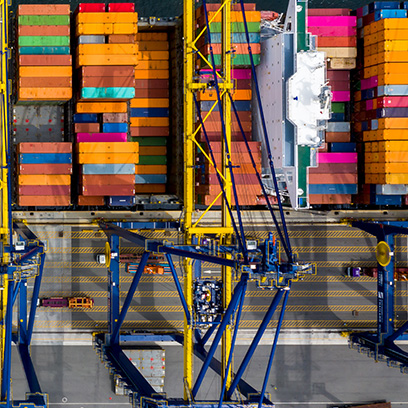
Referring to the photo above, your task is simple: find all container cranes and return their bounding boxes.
[91,0,317,408]
[341,219,408,369]
[0,0,55,408]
